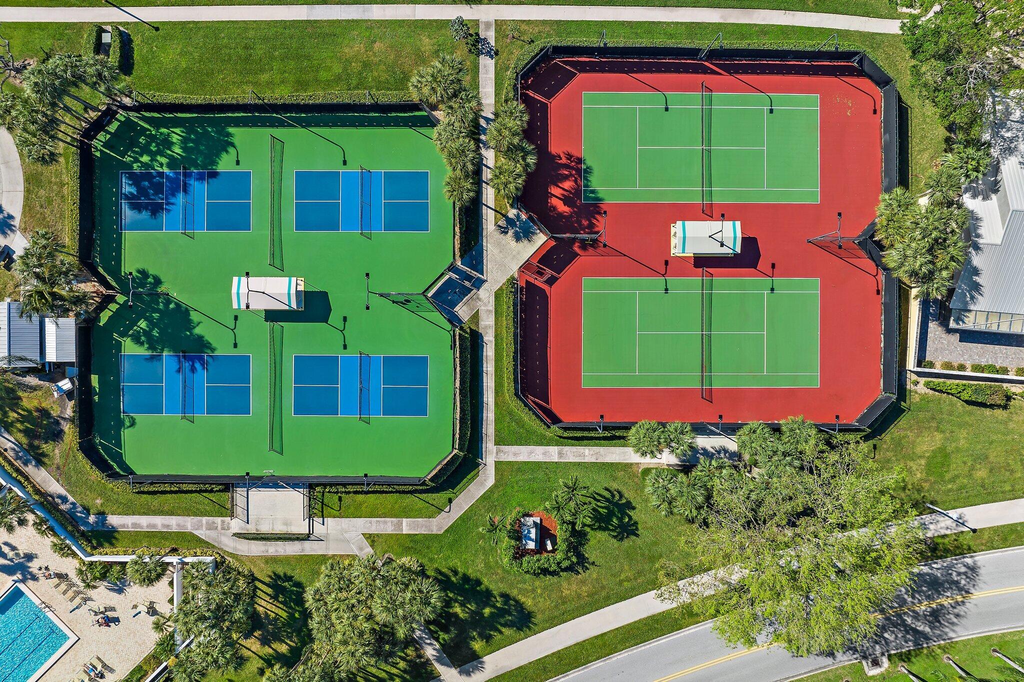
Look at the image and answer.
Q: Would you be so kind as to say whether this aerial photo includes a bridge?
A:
No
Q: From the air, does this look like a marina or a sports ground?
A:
sports ground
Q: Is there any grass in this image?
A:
Yes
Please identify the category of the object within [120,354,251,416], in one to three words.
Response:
sports court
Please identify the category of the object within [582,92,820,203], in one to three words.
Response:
tennis court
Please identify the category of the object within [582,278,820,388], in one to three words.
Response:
tennis court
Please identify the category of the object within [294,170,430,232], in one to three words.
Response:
sports court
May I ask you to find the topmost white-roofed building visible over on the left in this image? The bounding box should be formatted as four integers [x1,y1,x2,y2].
[232,277,304,310]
